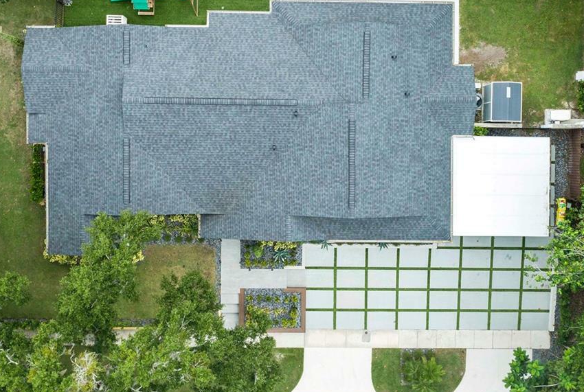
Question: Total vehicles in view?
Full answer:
Not a single vehicle can be seen.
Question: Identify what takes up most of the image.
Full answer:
The largest share of the image is taken up by buildings.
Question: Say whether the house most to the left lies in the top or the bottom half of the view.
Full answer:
The top half of the photo is where the house most to the left is.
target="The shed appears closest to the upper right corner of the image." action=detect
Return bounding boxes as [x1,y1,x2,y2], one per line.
[482,82,522,124]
